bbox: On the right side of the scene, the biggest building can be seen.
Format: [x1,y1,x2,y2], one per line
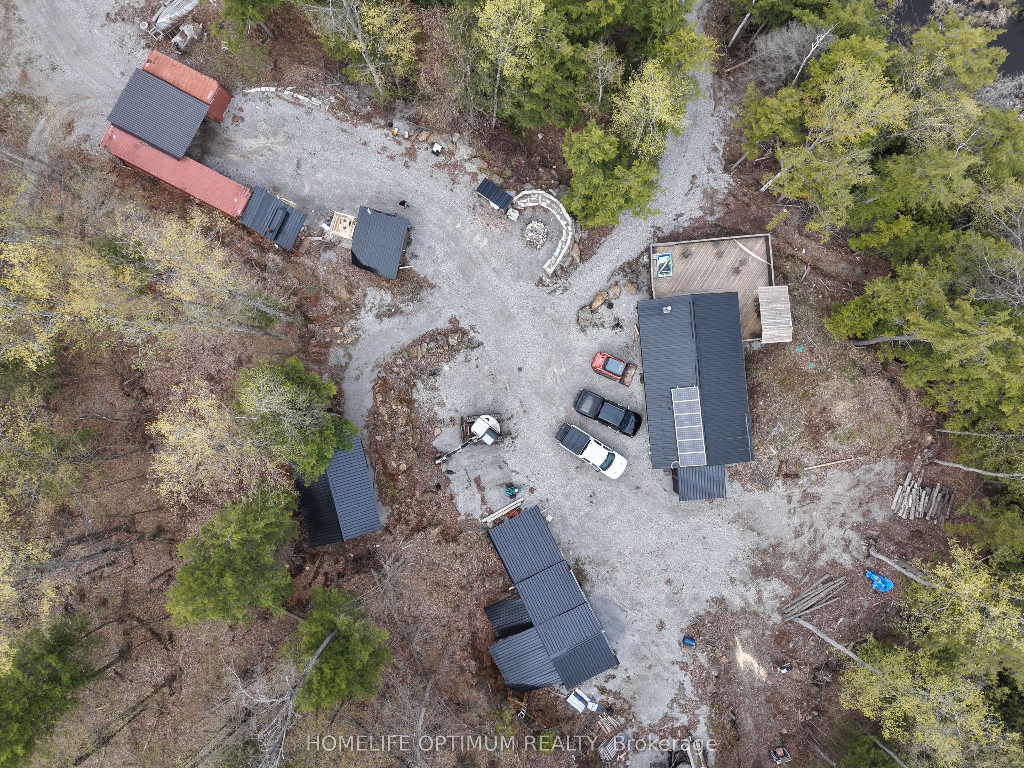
[635,292,754,470]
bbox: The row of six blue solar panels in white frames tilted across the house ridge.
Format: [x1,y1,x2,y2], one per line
[671,385,707,468]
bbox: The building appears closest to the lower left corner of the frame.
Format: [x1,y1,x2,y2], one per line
[289,437,382,547]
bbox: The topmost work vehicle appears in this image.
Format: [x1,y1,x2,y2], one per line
[594,354,641,393]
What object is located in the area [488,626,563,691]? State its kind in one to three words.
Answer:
shed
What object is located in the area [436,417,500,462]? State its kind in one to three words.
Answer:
work vehicle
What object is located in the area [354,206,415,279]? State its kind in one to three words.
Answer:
shed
